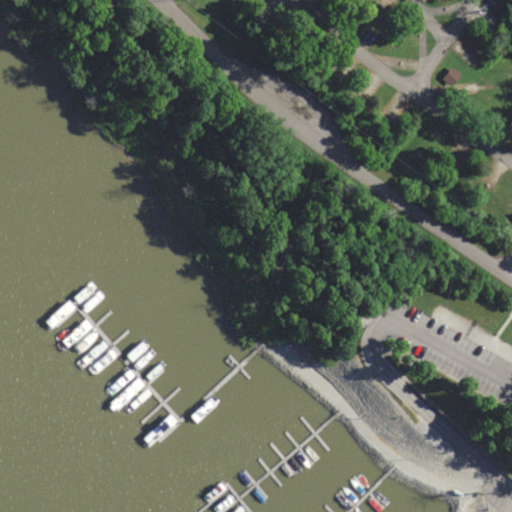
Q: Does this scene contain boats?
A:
Yes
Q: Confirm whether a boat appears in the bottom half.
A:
Yes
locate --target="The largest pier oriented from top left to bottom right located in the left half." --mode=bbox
[76,306,184,444]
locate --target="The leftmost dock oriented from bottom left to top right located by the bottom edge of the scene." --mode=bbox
[224,414,337,510]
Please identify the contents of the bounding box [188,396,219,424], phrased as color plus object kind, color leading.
white boat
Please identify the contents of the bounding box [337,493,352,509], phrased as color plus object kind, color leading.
gray boat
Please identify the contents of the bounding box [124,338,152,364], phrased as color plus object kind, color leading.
white boat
